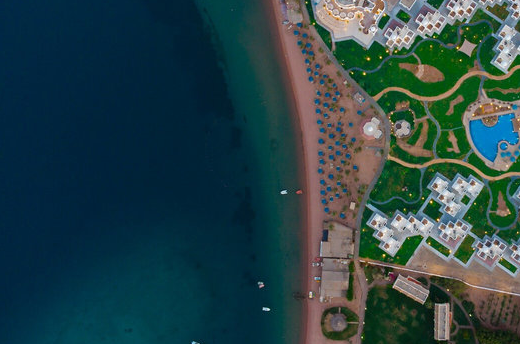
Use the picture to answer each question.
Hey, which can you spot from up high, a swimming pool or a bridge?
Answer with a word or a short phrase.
swimming pool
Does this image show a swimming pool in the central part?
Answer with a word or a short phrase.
No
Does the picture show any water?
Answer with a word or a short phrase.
Yes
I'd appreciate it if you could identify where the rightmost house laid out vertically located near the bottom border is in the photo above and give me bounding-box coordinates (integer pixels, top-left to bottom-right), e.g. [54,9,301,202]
[434,302,451,340]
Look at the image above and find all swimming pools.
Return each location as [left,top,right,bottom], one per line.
[497,140,509,152]
[468,112,519,163]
